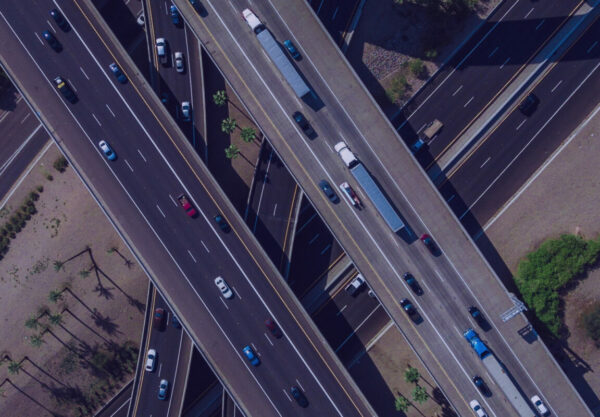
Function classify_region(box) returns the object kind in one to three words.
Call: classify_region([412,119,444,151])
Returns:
truck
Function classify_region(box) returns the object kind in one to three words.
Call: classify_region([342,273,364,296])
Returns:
truck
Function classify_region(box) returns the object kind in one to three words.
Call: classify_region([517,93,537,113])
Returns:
car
